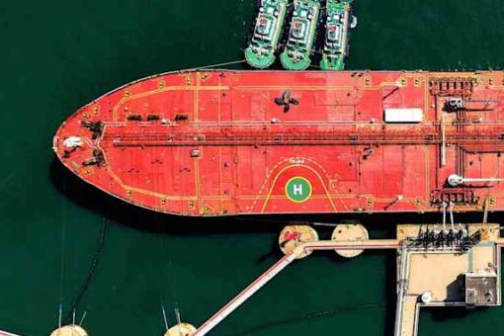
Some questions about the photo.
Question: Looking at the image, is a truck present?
No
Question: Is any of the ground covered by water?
Yes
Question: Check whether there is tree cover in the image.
No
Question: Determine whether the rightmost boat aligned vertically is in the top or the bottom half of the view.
top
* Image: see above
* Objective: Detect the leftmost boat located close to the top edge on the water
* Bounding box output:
[243,0,289,70]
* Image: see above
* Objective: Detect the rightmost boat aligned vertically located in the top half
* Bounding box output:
[319,0,351,70]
